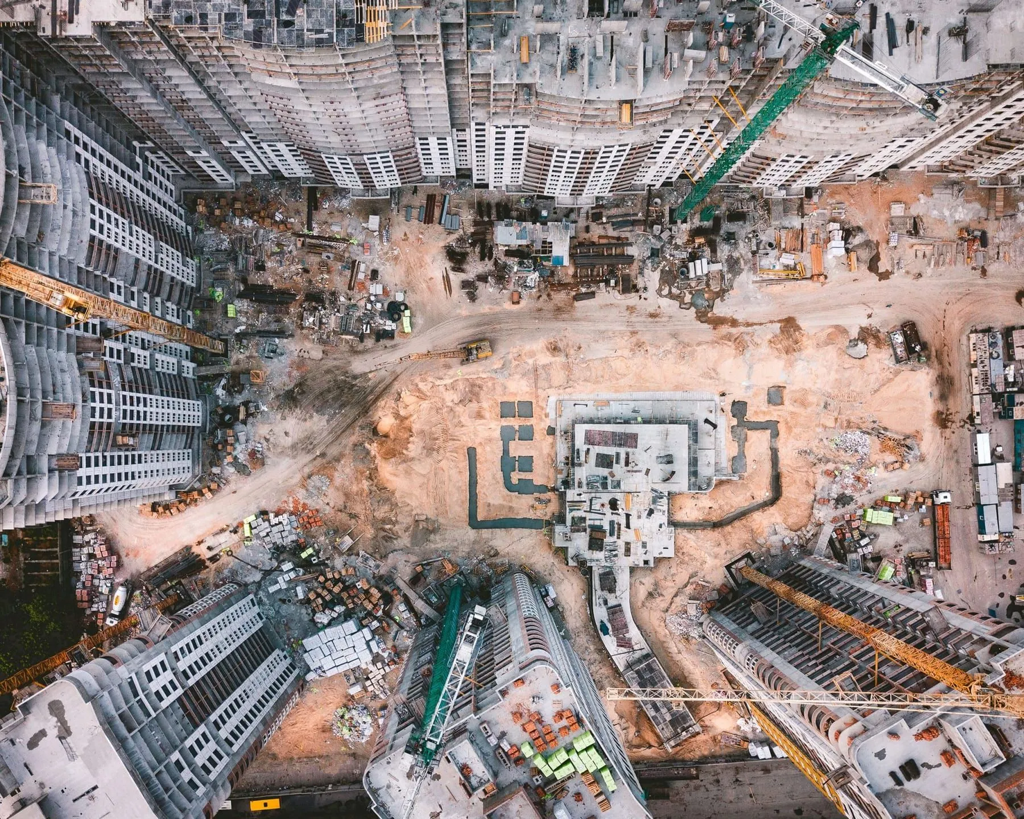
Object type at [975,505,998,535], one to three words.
building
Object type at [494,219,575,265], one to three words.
shed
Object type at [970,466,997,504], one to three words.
building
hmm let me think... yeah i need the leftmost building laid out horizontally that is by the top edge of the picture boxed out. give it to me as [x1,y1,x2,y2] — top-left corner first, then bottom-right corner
[0,0,472,201]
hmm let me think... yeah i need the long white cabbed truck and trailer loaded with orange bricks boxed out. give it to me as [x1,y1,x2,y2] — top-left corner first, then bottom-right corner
[938,488,959,580]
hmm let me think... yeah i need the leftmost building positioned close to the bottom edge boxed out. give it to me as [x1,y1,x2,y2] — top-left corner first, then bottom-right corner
[0,579,306,819]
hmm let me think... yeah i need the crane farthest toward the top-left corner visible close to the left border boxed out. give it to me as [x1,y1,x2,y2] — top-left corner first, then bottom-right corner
[0,250,233,355]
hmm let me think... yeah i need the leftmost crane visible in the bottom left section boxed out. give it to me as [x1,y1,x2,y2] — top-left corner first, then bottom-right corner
[0,578,198,696]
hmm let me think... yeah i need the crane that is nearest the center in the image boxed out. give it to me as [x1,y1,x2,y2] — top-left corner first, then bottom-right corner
[381,341,490,380]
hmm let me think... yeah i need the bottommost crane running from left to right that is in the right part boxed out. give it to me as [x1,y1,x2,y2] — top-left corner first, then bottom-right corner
[608,554,1024,718]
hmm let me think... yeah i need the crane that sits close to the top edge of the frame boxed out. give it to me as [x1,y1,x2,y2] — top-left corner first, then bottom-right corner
[669,0,950,233]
